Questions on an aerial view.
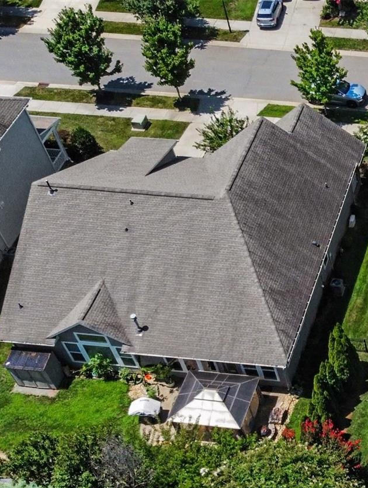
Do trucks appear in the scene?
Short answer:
No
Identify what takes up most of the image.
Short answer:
buildings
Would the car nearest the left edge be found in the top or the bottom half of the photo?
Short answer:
top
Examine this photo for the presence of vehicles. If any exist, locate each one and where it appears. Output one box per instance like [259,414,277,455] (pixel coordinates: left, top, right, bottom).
[334,82,368,107]
[255,0,286,25]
